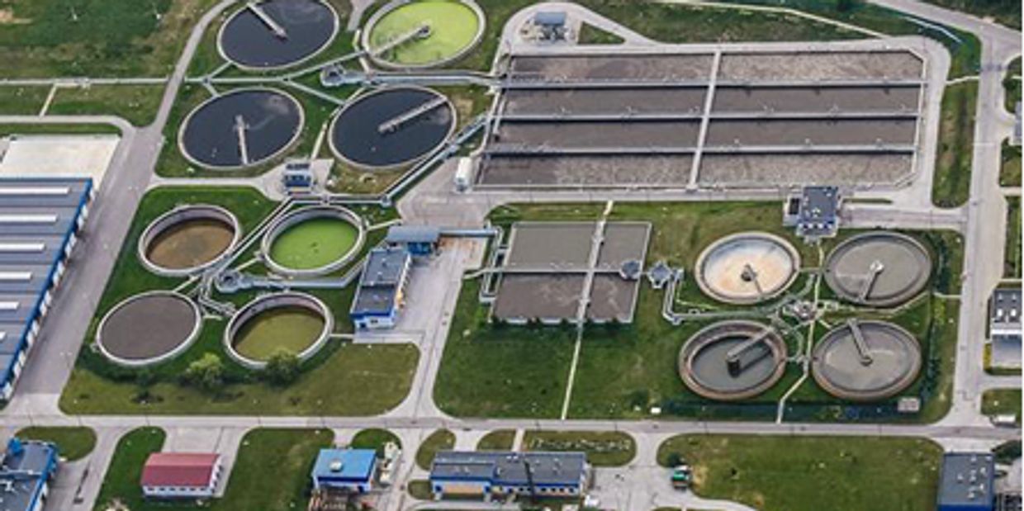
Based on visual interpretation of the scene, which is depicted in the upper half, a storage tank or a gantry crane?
storage tank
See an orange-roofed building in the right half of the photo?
No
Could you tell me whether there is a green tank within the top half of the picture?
Yes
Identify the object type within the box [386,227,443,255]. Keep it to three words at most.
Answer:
building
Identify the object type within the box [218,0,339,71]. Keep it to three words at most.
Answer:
storage tank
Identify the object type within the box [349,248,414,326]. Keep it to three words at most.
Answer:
building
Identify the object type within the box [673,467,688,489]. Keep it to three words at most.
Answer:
vehicle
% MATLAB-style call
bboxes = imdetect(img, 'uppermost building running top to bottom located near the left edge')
[0,176,98,414]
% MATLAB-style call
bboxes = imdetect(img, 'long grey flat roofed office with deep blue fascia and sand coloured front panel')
[429,449,588,502]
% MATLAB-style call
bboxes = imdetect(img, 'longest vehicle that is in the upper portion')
[458,154,474,184]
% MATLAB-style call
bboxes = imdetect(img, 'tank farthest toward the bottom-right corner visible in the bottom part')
[811,319,922,402]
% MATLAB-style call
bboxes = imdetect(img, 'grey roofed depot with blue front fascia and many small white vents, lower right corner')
[938,452,995,511]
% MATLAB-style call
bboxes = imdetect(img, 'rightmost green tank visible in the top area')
[362,0,485,71]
